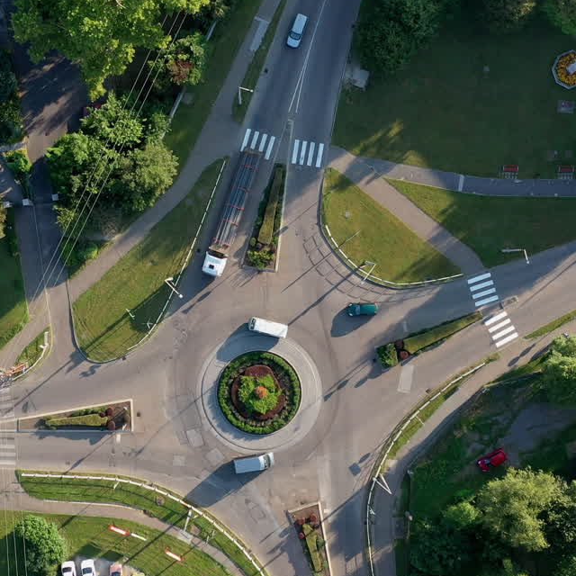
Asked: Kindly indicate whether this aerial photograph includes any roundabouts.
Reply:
Yes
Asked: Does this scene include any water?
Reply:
No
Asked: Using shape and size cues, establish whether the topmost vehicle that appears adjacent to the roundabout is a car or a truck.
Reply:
truck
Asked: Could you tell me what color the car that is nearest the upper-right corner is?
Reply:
blue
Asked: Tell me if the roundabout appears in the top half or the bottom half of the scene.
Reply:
bottom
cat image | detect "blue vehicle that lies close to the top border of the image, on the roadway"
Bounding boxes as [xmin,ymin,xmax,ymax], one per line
[286,14,308,50]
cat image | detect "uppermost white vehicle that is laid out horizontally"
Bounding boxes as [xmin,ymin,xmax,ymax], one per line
[249,315,289,339]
